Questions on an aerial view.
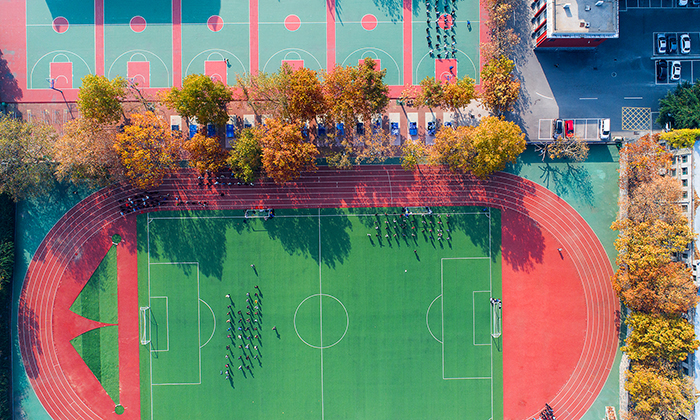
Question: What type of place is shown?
sports ground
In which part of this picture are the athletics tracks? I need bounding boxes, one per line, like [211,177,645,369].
[20,166,622,420]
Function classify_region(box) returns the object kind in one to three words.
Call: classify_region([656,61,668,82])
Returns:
vehicle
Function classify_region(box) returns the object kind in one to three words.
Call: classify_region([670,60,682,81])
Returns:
vehicle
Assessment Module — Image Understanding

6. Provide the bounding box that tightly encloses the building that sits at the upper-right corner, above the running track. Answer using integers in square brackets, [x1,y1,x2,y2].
[528,0,621,51]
